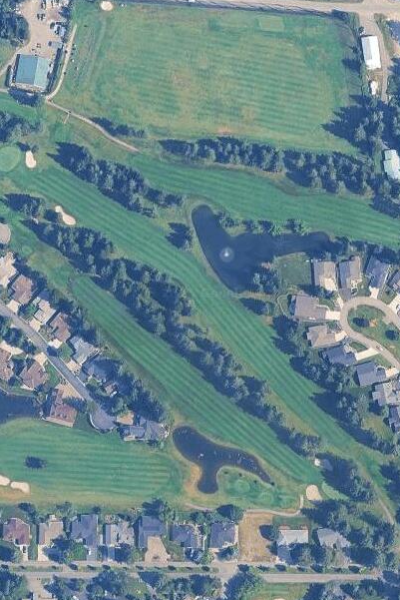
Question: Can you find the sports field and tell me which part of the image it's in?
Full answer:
The sports field is located in the top region of the scene.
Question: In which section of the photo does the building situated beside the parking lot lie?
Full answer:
The building situated beside the parking lot sits in the top left section of the image.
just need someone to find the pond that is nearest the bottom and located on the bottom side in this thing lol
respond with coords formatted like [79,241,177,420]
[172,426,274,493]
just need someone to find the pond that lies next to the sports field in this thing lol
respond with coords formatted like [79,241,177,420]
[191,204,347,291]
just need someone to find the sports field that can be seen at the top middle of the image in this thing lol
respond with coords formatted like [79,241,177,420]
[57,1,358,154]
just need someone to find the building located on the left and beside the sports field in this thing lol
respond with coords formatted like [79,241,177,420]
[16,55,50,94]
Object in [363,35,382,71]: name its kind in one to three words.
house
